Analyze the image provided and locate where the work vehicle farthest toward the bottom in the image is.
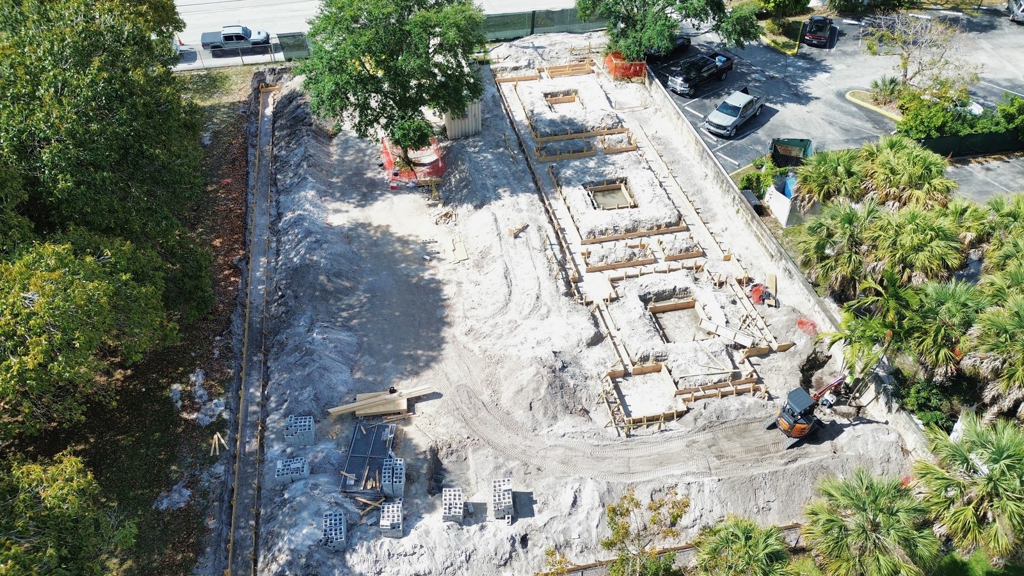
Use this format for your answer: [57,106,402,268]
[766,368,853,456]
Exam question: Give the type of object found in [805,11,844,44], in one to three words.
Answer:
car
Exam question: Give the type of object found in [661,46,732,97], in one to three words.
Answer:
truck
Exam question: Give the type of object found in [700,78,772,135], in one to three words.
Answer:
truck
